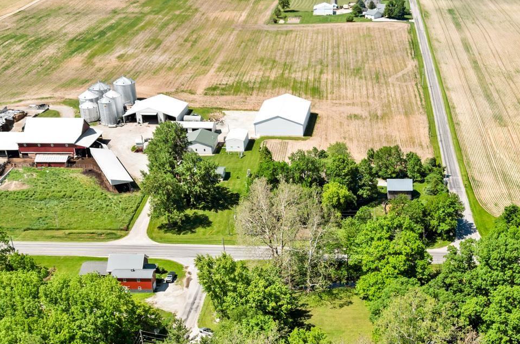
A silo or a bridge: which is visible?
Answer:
silo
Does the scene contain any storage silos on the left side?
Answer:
Yes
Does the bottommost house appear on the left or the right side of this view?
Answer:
left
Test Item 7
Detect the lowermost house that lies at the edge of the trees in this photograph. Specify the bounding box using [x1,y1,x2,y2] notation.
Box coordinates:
[110,268,160,292]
